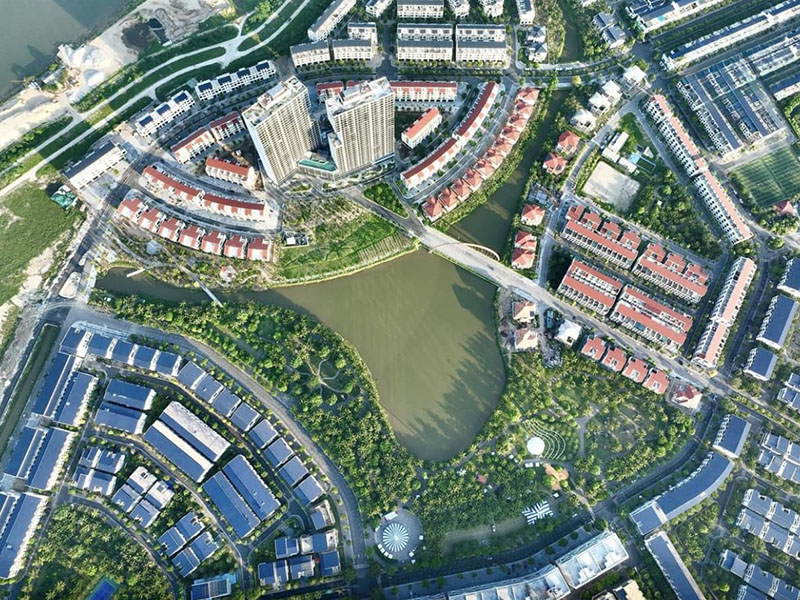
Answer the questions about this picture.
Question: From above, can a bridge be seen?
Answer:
Yes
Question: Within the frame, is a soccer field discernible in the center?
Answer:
No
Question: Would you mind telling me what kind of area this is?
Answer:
residential area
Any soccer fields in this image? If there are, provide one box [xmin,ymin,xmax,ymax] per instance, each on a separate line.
[732,160,786,206]
[766,146,800,196]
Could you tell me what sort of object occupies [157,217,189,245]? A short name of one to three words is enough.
house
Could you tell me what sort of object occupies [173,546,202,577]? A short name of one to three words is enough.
house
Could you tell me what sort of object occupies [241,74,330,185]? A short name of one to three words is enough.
building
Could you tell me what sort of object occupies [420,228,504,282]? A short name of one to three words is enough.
bridge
